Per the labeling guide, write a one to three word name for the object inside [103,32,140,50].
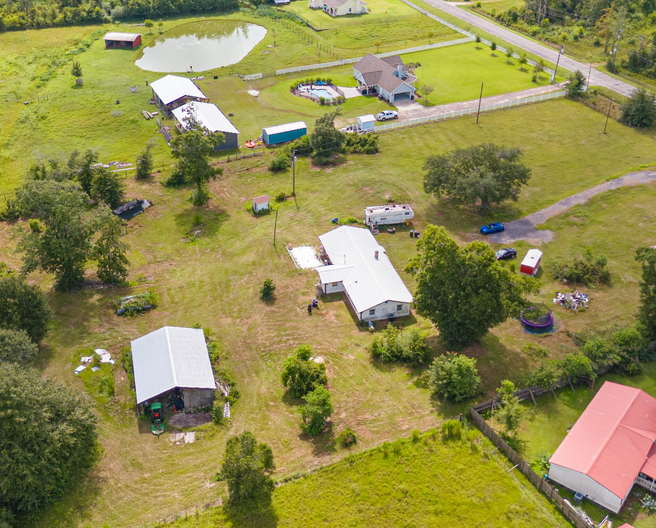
shed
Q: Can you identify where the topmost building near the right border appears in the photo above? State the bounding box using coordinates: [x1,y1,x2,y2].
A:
[548,381,656,514]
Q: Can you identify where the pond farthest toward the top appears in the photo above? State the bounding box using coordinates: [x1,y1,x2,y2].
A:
[136,20,267,72]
